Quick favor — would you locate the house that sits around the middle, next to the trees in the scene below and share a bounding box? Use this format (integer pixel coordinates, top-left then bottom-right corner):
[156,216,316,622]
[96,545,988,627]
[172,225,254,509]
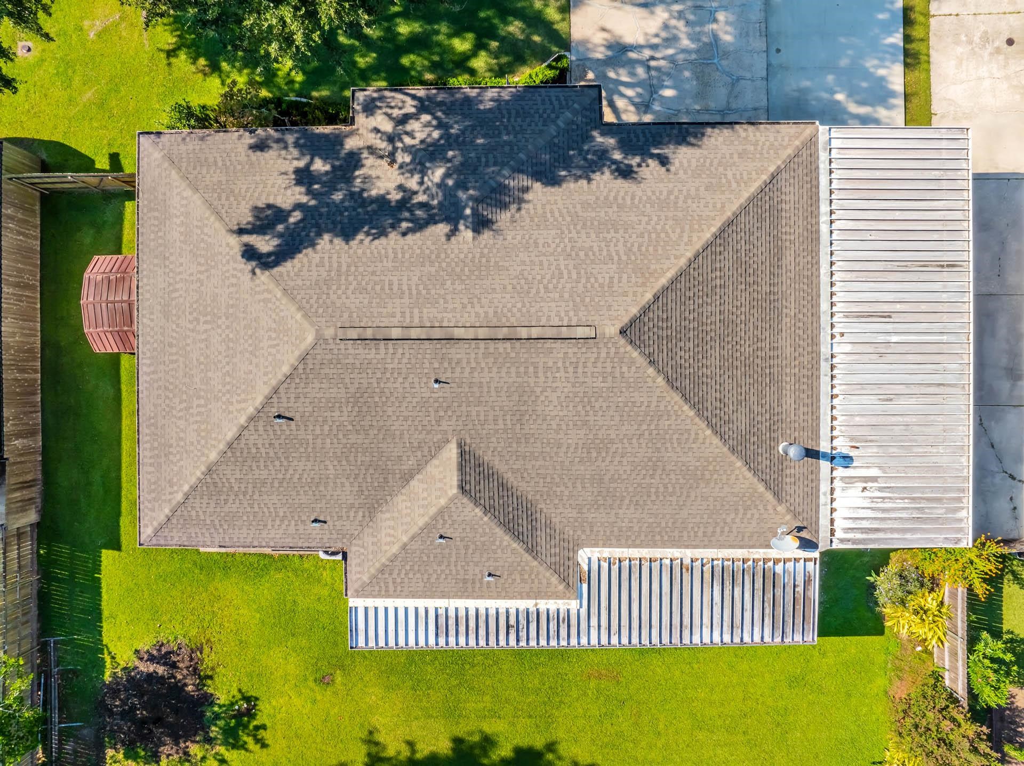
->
[134,85,821,601]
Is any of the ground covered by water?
No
